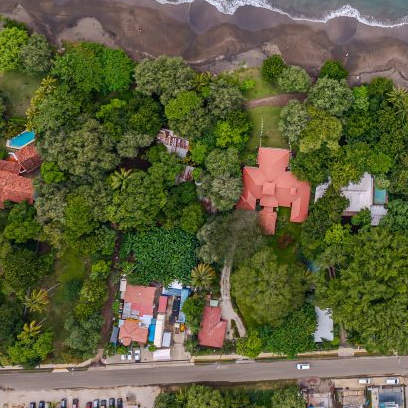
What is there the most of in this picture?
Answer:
trees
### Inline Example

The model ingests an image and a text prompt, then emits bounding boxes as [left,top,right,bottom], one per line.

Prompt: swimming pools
[7,130,35,149]
[374,188,387,204]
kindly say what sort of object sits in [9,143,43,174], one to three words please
building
